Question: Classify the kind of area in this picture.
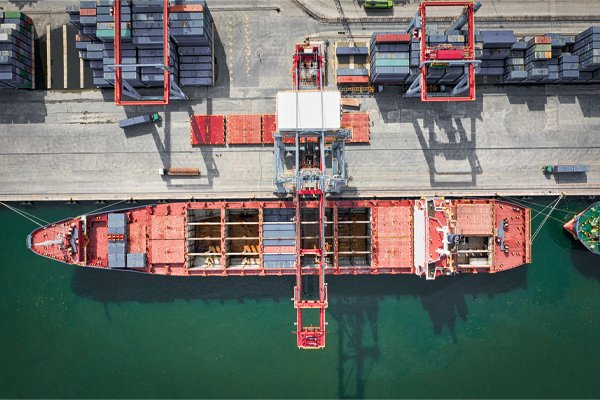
port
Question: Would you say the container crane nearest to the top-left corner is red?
Yes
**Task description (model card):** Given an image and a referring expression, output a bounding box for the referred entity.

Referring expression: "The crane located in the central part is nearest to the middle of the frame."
[267,45,353,348]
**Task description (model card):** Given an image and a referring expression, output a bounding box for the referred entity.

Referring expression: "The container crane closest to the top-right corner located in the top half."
[398,0,483,102]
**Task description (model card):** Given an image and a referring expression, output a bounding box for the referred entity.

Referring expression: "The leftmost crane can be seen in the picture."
[105,0,192,105]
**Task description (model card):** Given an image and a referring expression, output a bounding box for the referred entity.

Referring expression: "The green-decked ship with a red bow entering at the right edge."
[563,200,600,256]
